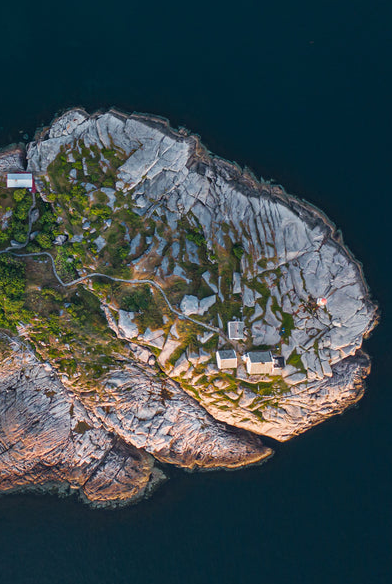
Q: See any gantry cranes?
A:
No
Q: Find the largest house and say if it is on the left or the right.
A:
right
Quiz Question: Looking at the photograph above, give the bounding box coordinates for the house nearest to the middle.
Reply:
[225,320,243,340]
